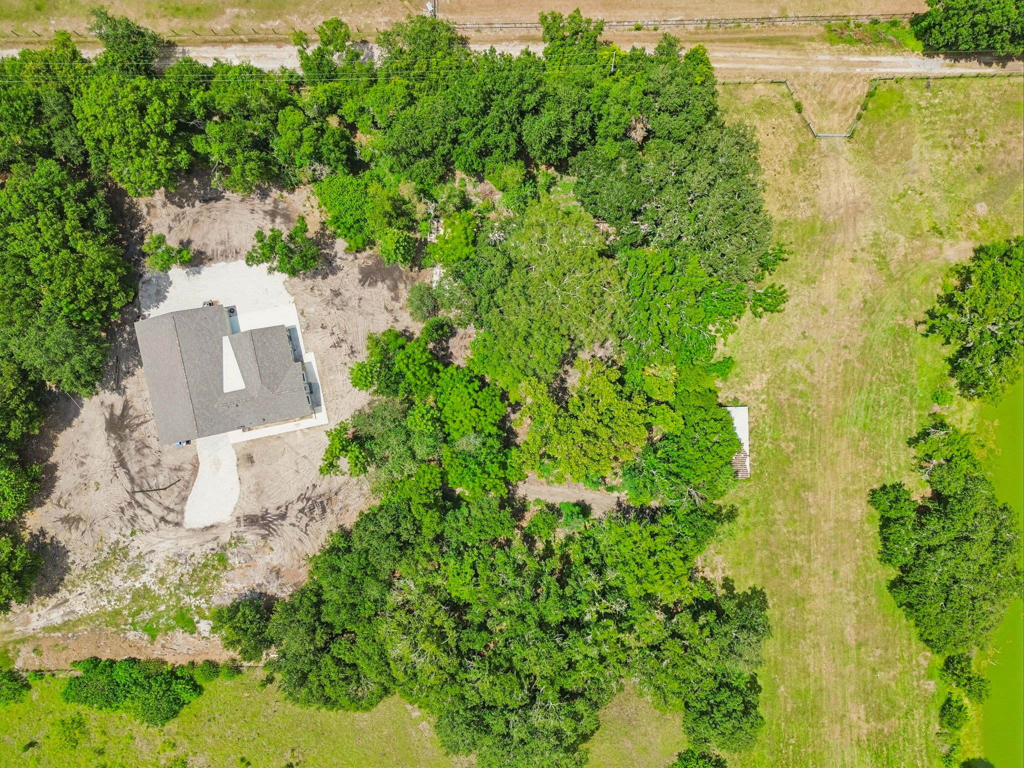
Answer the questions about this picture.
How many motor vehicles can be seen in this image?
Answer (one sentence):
Not a single motor vehicle can be seen.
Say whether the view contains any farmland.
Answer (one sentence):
Yes, farmland shows up in the scene.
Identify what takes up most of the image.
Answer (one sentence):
Most of the picture is covered by trees.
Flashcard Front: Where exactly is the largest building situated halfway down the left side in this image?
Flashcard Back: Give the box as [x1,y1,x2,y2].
[135,304,316,445]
